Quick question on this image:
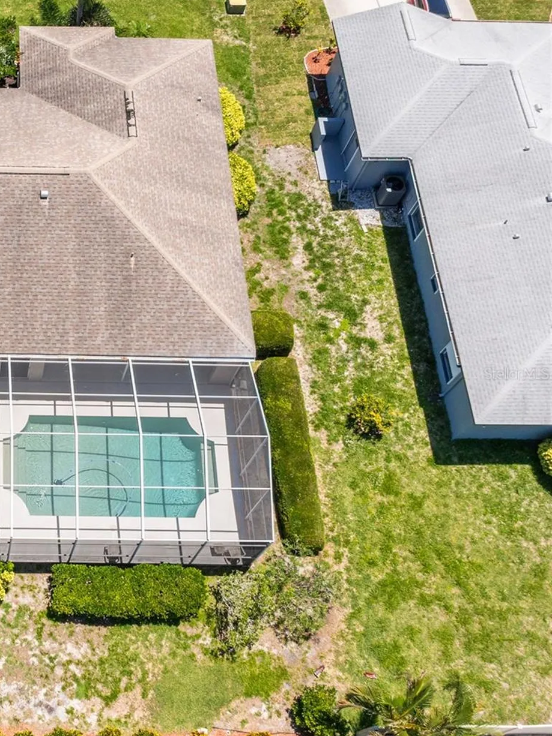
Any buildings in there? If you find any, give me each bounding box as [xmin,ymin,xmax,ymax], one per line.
[322,0,552,449]
[0,25,257,392]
